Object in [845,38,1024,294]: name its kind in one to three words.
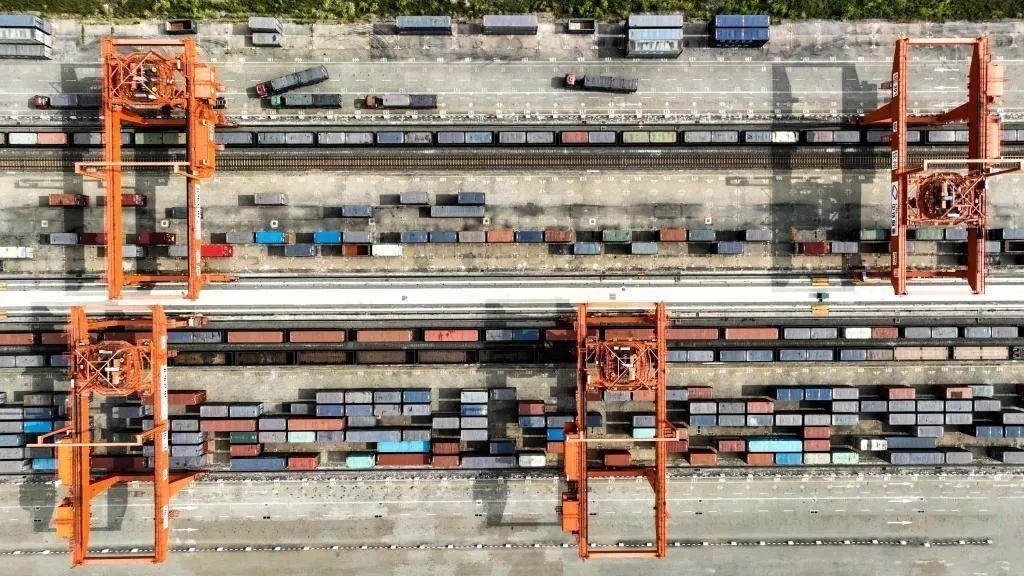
container crane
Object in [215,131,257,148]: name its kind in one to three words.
rail car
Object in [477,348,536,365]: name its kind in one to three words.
rail car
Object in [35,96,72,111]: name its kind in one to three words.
vehicle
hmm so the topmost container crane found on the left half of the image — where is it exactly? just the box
[72,38,240,299]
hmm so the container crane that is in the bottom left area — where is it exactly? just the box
[26,303,210,564]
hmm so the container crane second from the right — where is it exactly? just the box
[550,300,682,558]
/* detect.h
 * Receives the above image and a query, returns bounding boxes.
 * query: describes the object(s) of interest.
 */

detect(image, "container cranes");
[550,300,682,558]
[26,303,210,564]
[72,38,240,299]
[845,38,1024,294]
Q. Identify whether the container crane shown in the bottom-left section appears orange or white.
orange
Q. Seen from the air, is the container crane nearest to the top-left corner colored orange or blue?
orange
